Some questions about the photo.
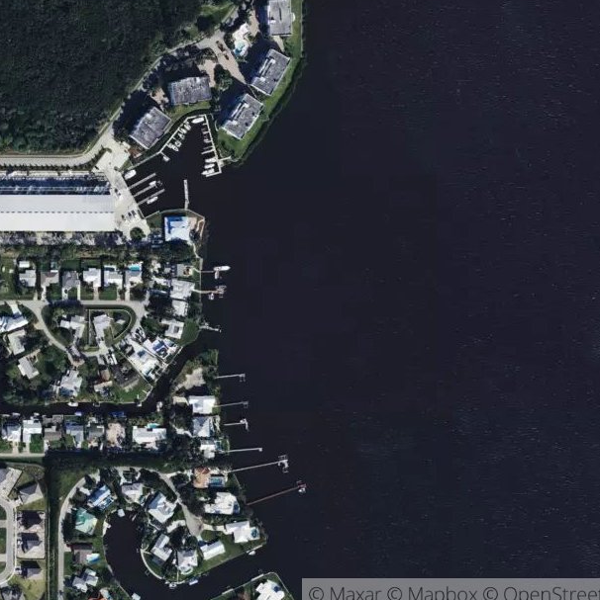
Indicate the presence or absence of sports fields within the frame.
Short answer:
No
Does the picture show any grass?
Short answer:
Yes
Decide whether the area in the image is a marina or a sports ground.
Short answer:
marina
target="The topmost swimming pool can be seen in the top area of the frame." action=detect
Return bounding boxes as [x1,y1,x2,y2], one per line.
[232,38,248,55]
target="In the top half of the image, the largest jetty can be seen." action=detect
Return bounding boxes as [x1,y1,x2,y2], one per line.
[128,114,223,178]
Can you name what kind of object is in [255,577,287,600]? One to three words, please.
house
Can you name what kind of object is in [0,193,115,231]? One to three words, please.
shed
